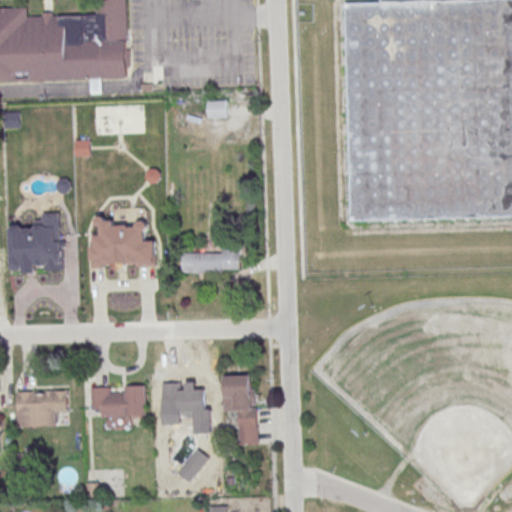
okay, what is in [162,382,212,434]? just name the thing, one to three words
house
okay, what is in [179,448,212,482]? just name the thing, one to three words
building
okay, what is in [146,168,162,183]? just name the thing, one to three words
gazebo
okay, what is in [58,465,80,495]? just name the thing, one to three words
swimming pool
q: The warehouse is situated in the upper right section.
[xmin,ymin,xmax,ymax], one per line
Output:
[346,0,512,218]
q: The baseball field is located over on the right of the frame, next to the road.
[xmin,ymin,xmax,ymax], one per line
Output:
[314,297,512,511]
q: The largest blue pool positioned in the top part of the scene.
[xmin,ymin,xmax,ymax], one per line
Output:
[30,178,60,196]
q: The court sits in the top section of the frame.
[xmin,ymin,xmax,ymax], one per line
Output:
[96,105,146,136]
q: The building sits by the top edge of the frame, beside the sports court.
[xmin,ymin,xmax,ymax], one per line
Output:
[0,0,131,96]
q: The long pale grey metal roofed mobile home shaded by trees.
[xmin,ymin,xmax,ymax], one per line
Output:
[182,250,242,272]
